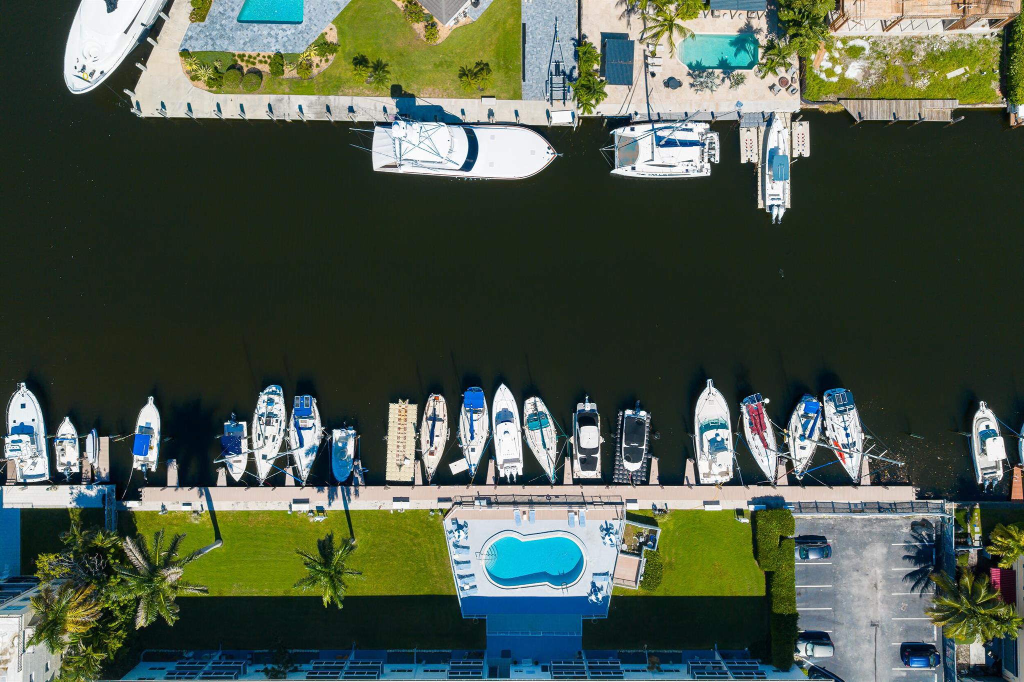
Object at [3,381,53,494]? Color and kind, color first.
white boat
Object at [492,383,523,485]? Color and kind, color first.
white boat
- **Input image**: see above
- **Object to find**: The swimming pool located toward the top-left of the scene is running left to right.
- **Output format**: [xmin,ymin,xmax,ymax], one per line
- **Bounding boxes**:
[234,0,306,27]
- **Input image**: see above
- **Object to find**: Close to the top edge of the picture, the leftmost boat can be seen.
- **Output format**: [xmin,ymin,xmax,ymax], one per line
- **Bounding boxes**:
[61,0,177,94]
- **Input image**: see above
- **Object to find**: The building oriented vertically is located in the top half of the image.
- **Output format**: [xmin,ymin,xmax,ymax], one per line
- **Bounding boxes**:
[605,31,635,91]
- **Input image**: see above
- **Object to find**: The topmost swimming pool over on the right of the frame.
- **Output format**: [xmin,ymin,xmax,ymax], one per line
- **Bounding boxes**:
[674,30,762,72]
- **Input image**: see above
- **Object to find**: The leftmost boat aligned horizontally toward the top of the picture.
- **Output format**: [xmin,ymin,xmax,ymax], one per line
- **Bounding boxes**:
[349,109,563,179]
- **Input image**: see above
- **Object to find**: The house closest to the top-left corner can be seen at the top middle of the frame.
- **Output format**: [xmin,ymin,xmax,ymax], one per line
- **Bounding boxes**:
[418,0,473,28]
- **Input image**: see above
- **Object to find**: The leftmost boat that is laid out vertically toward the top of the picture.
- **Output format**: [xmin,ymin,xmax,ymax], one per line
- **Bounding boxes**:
[706,131,720,164]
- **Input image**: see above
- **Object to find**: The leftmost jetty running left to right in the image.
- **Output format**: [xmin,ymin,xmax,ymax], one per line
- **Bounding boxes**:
[2,484,118,508]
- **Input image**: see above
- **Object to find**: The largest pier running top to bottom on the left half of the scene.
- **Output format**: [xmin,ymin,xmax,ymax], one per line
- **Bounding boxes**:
[386,399,418,480]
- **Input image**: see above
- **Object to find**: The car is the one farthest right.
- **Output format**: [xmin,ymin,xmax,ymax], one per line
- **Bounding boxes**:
[900,649,939,668]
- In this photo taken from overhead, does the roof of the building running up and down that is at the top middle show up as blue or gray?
blue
